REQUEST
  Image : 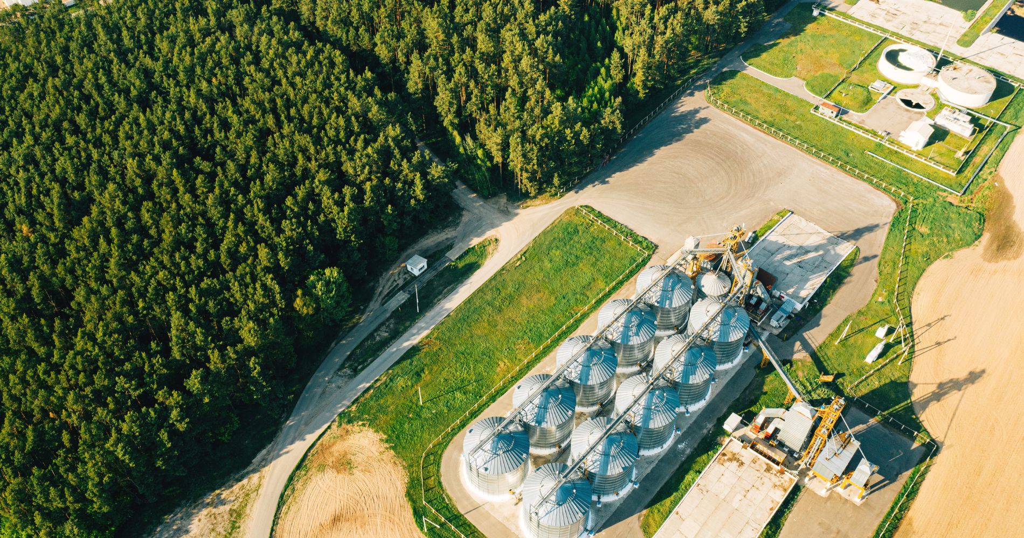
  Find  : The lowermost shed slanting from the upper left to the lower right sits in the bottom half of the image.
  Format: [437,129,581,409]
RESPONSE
[752,433,790,467]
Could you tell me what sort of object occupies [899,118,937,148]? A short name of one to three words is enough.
building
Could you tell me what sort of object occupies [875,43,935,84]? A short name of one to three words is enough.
storage tank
